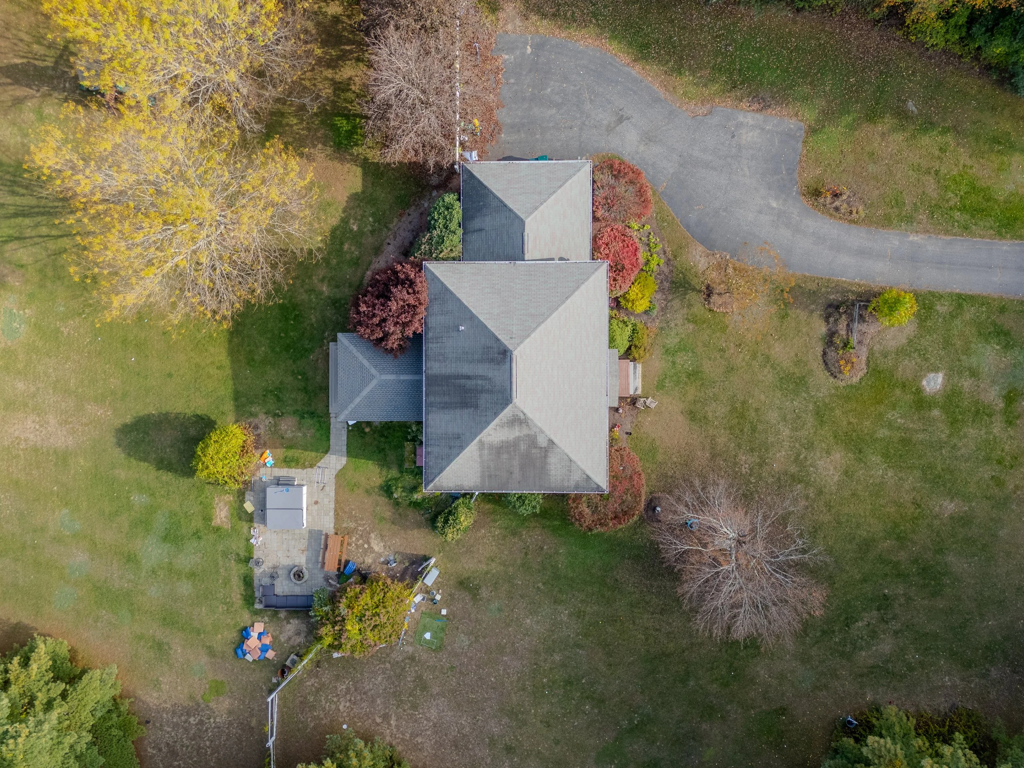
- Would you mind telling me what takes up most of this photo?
grass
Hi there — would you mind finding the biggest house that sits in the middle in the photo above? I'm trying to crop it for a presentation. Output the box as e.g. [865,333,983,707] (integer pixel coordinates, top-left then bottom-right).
[329,161,642,504]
